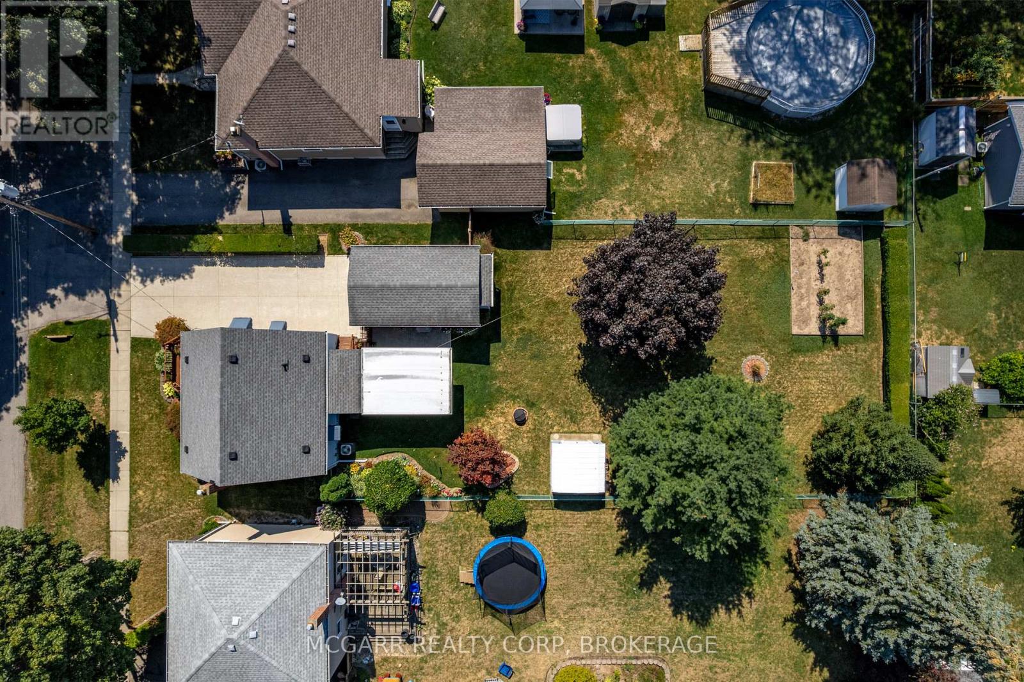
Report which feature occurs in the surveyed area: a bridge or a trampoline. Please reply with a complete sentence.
This aerial view contains a trampoline.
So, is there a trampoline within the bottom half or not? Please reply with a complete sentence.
Yes, you'll find a trampoline within the bottom half.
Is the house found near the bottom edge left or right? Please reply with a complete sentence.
It is on the left.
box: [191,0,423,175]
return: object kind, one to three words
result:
house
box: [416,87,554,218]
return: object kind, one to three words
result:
building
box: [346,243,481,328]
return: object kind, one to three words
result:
building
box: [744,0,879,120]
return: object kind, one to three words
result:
swimming pool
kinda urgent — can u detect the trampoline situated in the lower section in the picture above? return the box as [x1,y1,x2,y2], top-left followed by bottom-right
[474,533,547,619]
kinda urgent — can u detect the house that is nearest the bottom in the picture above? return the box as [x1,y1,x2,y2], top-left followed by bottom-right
[163,517,357,682]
